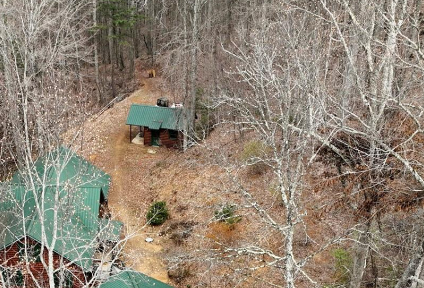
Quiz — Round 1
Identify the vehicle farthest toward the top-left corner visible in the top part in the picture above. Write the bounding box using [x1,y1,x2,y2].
[154,95,171,111]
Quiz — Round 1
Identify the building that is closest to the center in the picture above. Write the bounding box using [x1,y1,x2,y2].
[132,110,195,148]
